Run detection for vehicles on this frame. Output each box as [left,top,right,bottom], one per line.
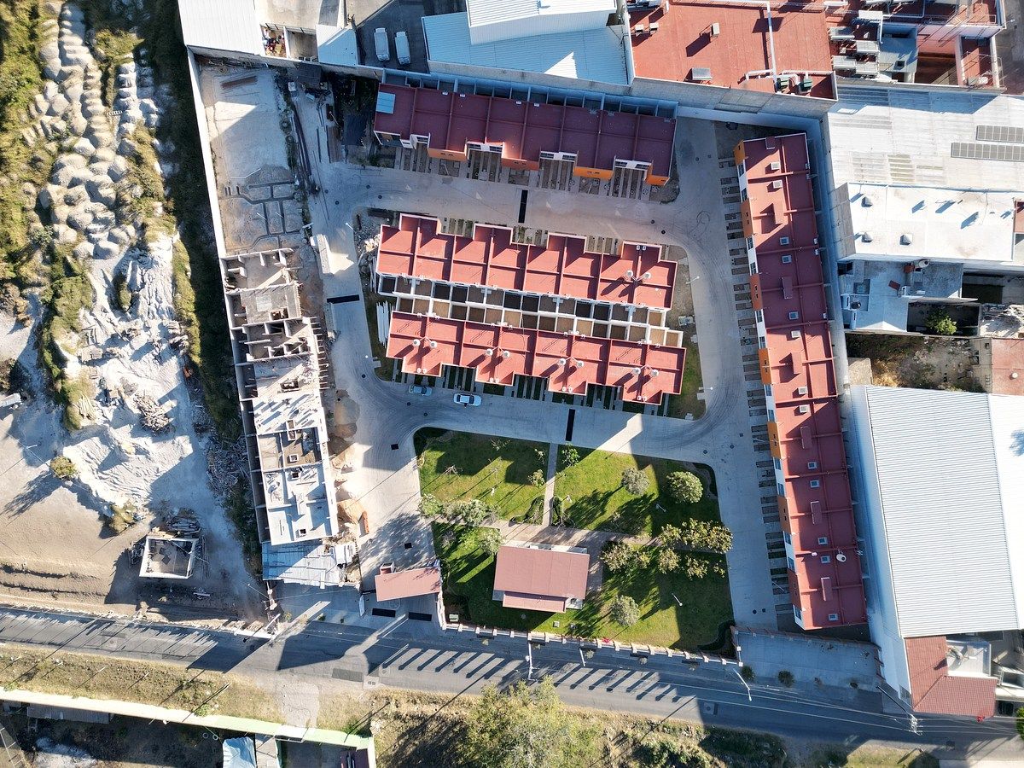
[395,33,413,69]
[454,393,482,406]
[409,384,433,397]
[374,30,391,66]
[998,698,1016,720]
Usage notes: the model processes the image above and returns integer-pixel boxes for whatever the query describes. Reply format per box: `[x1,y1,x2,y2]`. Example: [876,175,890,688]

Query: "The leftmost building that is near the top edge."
[183,0,272,57]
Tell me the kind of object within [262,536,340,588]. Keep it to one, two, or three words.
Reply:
shed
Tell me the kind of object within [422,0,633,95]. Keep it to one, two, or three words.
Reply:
building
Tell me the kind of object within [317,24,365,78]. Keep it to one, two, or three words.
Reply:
shed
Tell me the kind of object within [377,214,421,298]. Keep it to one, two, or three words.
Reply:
house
